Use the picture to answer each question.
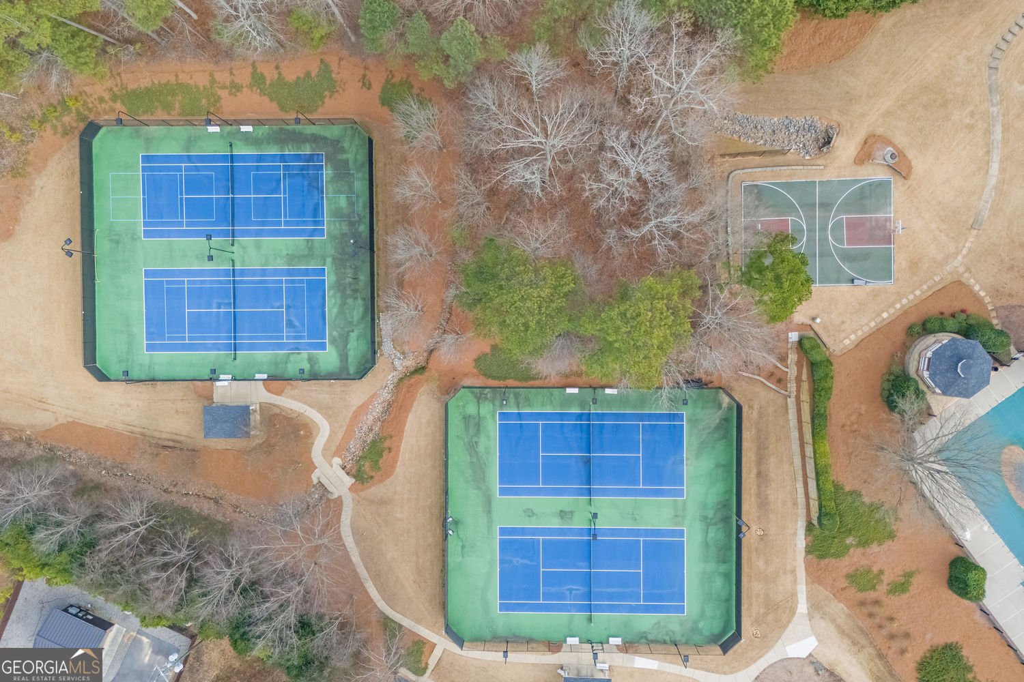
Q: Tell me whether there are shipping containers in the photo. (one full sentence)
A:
No, the frame has no shipping container in it.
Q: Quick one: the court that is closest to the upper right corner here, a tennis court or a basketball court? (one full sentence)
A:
The court that is closest to the upper right corner appears to be a basketball court.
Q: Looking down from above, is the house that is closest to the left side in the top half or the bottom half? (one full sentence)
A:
The bottom half of the photo is where the house that is closest to the left side is.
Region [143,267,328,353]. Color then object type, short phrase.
blue tennis court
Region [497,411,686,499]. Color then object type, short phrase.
blue tennis court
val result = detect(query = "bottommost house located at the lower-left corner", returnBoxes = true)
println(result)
[33,606,114,682]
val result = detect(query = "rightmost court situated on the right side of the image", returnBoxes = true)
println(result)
[742,178,894,286]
